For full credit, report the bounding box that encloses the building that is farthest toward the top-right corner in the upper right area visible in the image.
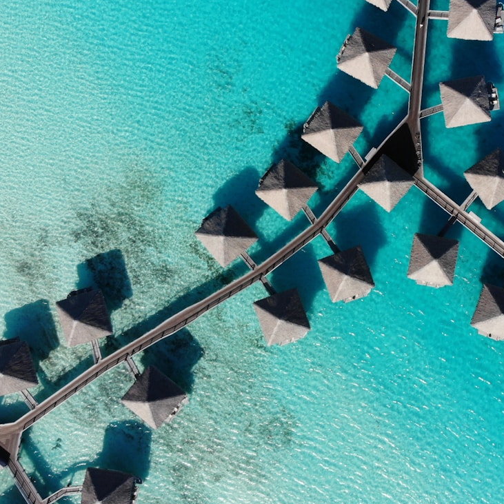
[447,0,504,42]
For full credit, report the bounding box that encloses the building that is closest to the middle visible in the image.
[195,205,257,267]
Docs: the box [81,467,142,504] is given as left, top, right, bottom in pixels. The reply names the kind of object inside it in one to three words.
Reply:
house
